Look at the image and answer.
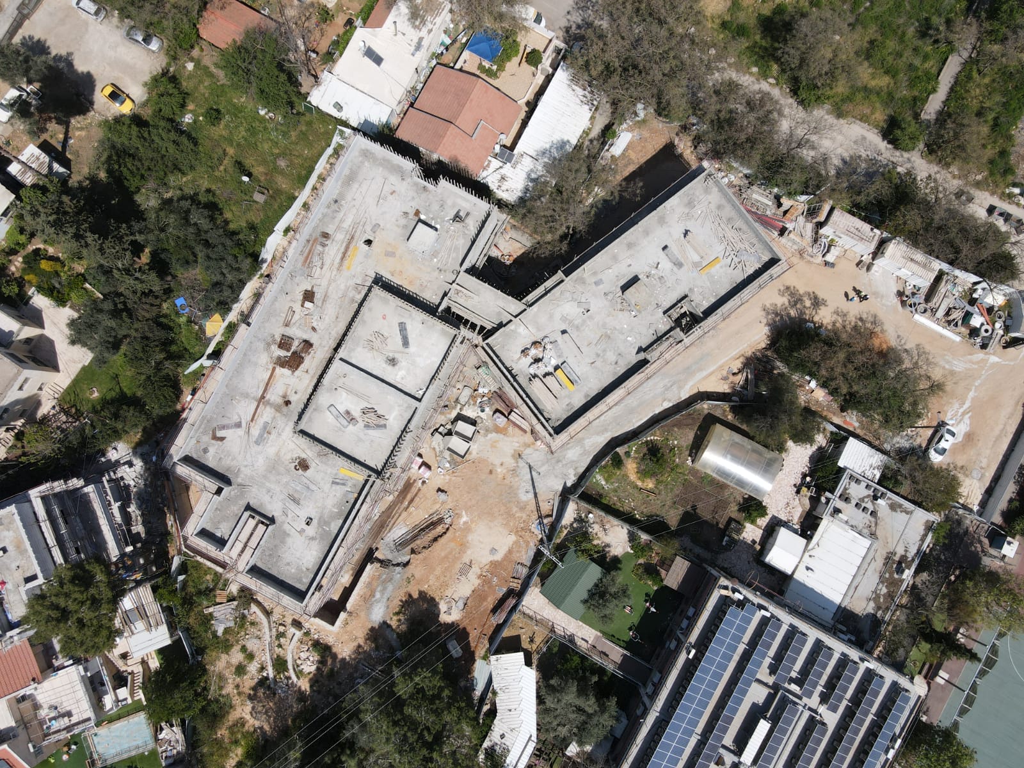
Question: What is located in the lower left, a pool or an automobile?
pool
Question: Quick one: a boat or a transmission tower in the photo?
transmission tower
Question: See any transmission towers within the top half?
No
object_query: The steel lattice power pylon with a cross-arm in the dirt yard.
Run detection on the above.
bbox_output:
[537,530,565,570]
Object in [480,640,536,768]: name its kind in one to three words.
shed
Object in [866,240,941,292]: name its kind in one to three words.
shed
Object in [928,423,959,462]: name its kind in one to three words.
car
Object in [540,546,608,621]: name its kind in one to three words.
house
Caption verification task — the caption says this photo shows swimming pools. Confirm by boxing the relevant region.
[81,709,157,767]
